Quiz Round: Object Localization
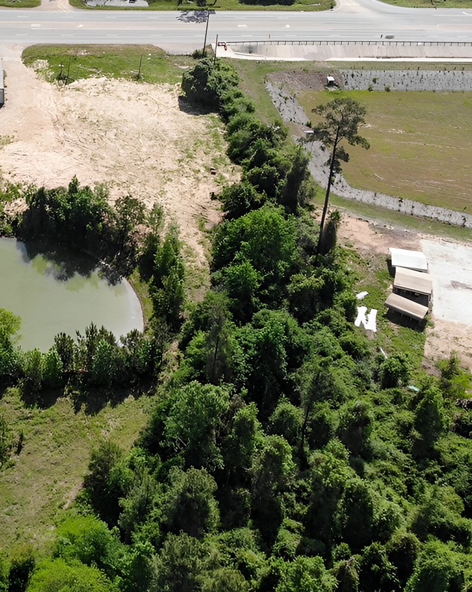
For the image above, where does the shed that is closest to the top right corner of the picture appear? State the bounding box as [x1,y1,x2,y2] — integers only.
[386,248,427,277]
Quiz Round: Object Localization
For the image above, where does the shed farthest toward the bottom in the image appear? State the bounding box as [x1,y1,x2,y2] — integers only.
[383,293,428,330]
